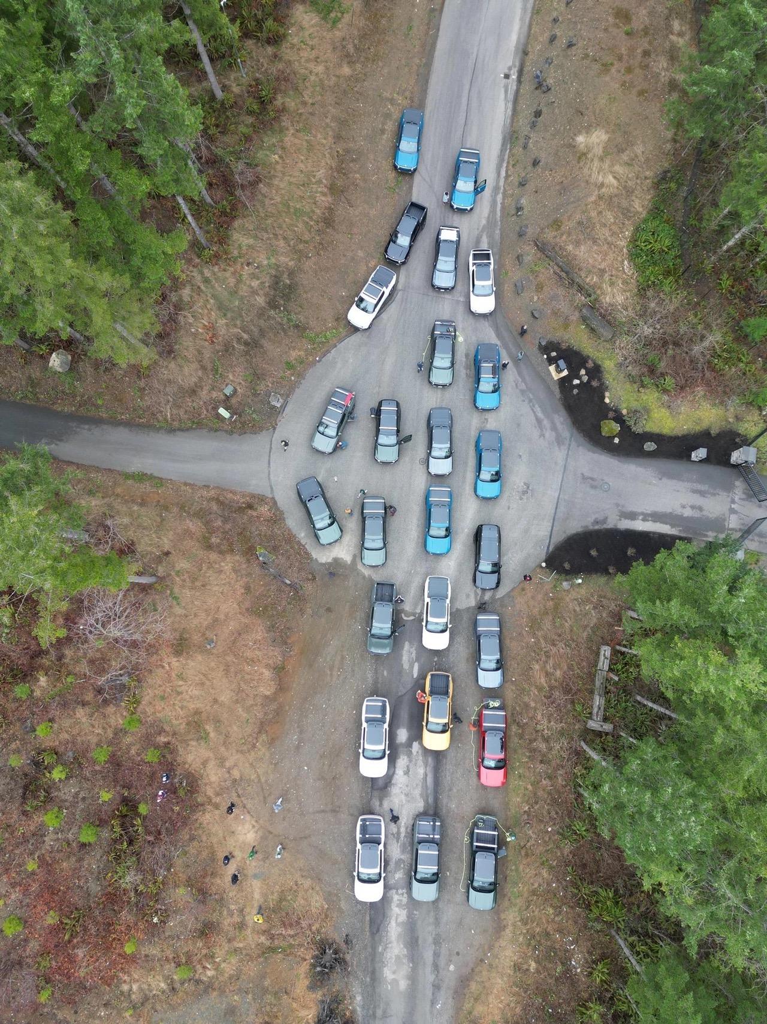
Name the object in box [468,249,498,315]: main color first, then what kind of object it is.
white truck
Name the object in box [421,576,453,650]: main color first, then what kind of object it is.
white truck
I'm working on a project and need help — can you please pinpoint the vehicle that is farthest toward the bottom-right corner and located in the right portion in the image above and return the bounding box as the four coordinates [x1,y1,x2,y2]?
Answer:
[466,819,501,912]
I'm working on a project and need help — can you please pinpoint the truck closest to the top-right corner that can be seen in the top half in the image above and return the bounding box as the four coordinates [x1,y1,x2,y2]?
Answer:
[452,148,493,213]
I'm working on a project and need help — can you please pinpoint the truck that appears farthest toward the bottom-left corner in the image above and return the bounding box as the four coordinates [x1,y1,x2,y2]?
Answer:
[352,815,386,900]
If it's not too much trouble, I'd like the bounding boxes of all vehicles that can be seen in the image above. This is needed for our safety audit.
[472,523,504,591]
[427,319,458,388]
[352,815,386,900]
[473,343,504,411]
[313,385,354,456]
[358,697,391,777]
[474,613,507,688]
[387,201,427,267]
[425,406,456,476]
[468,249,498,315]
[452,148,493,213]
[372,399,415,464]
[409,815,443,901]
[364,580,411,655]
[421,576,453,650]
[477,701,511,788]
[350,265,397,331]
[432,226,461,292]
[423,484,455,556]
[395,109,423,172]
[358,495,389,567]
[298,475,340,548]
[466,819,501,912]
[473,429,505,500]
[421,672,454,751]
